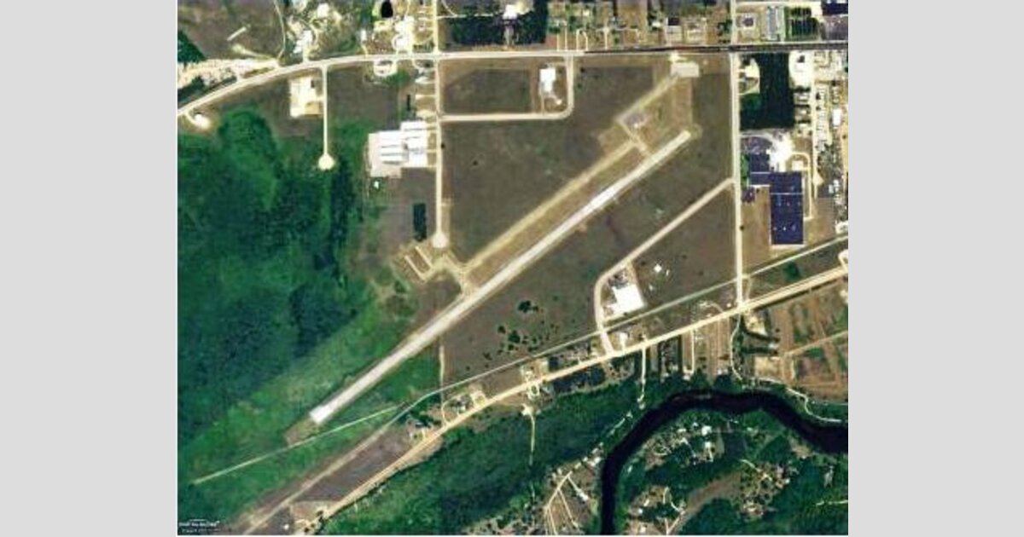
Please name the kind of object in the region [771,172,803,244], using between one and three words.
building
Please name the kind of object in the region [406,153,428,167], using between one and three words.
building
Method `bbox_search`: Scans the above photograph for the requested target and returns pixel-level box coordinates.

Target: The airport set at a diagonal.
[310,72,691,424]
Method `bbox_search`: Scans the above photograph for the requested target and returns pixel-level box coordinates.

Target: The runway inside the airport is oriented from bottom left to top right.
[310,131,691,424]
